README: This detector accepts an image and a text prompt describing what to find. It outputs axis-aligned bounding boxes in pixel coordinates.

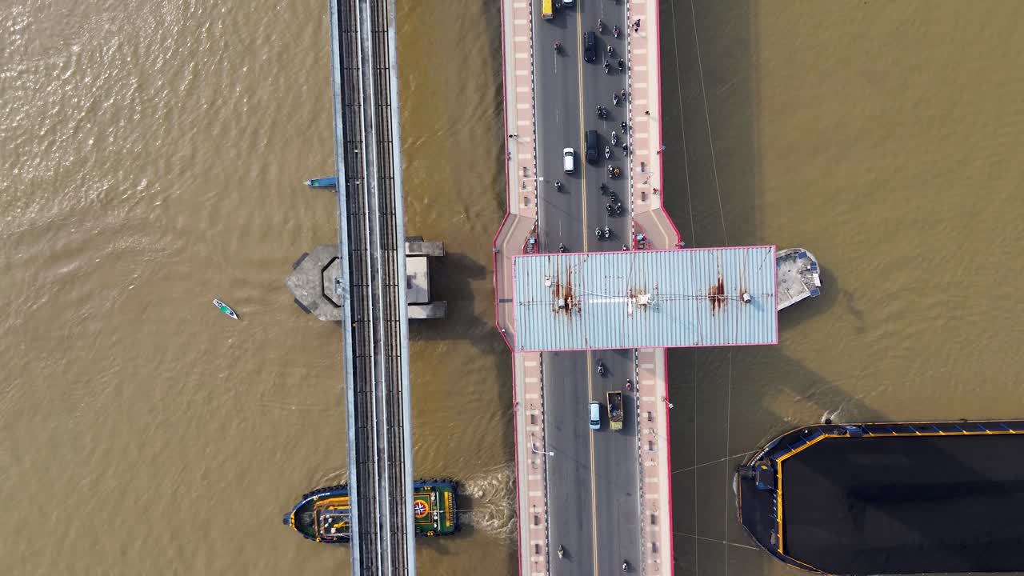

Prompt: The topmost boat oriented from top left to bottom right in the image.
[213,299,239,318]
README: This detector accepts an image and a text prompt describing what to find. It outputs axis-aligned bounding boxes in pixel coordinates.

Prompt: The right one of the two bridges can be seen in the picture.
[493,0,681,576]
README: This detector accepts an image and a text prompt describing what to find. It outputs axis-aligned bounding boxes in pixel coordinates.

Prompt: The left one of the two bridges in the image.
[327,0,417,576]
